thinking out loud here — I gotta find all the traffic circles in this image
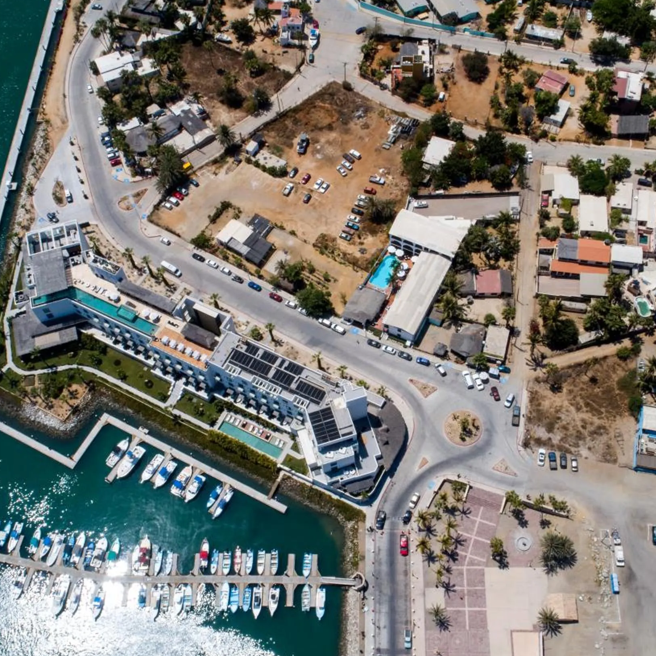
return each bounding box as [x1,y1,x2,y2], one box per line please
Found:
[444,409,483,446]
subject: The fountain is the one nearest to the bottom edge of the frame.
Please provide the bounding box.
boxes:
[514,534,533,553]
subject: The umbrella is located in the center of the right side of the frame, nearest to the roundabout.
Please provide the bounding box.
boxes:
[477,370,491,383]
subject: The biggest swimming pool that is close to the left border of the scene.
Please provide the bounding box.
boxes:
[32,288,160,336]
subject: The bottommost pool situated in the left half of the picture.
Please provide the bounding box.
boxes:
[217,419,284,460]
